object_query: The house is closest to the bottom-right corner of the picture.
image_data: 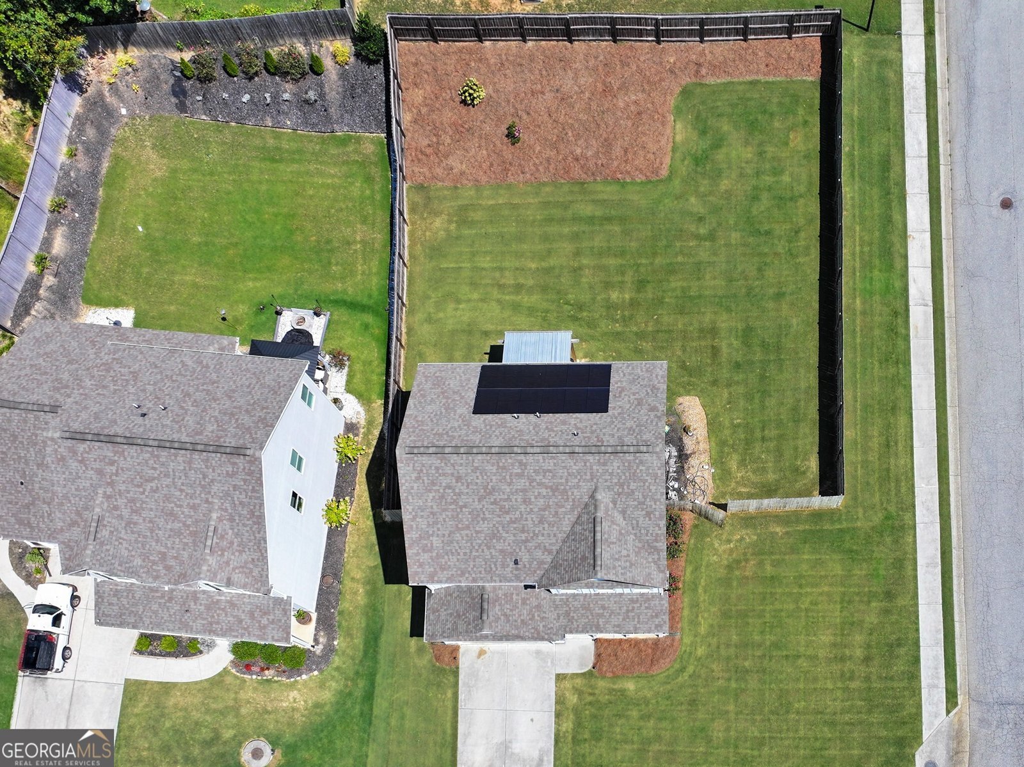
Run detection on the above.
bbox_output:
[394,359,687,649]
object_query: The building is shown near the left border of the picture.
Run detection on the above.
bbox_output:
[0,318,345,651]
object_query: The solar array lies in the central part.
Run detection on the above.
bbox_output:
[472,365,613,416]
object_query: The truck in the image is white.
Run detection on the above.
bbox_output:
[21,579,80,676]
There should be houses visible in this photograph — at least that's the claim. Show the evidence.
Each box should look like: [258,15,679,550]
[394,359,687,649]
[0,318,345,651]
